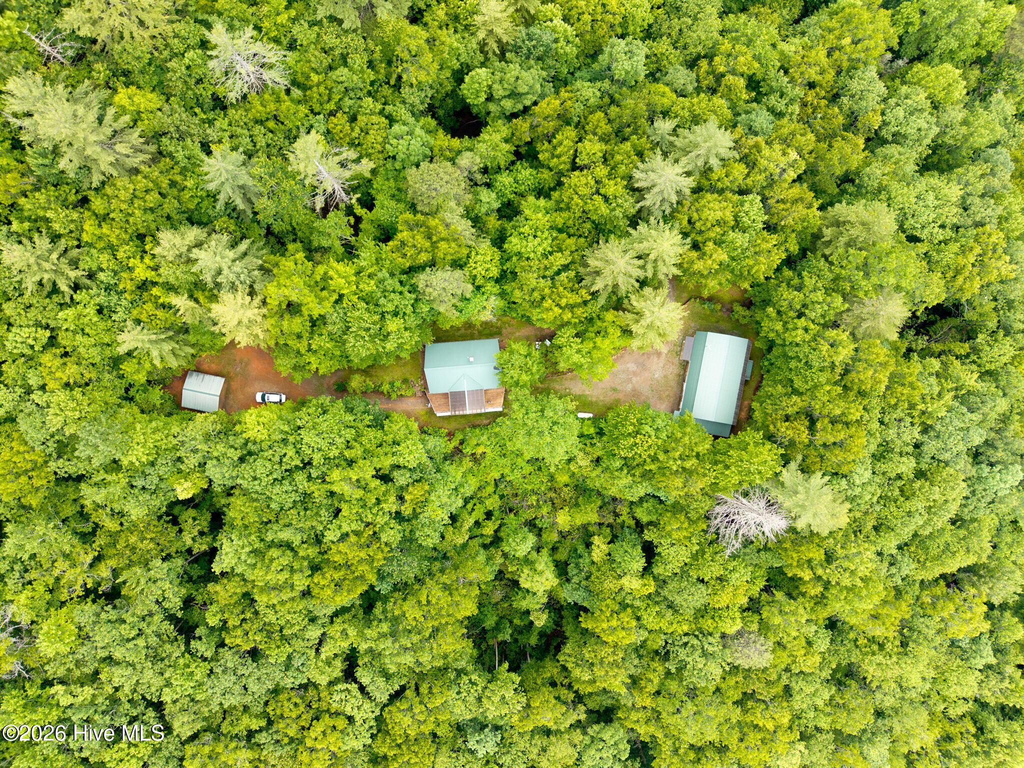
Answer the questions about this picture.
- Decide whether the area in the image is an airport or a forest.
forest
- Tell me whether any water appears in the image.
No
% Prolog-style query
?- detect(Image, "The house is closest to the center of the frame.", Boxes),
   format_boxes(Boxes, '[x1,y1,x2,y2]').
[423,338,505,416]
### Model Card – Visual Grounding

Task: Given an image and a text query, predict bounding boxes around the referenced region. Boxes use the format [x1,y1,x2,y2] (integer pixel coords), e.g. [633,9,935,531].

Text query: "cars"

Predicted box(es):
[256,391,286,404]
